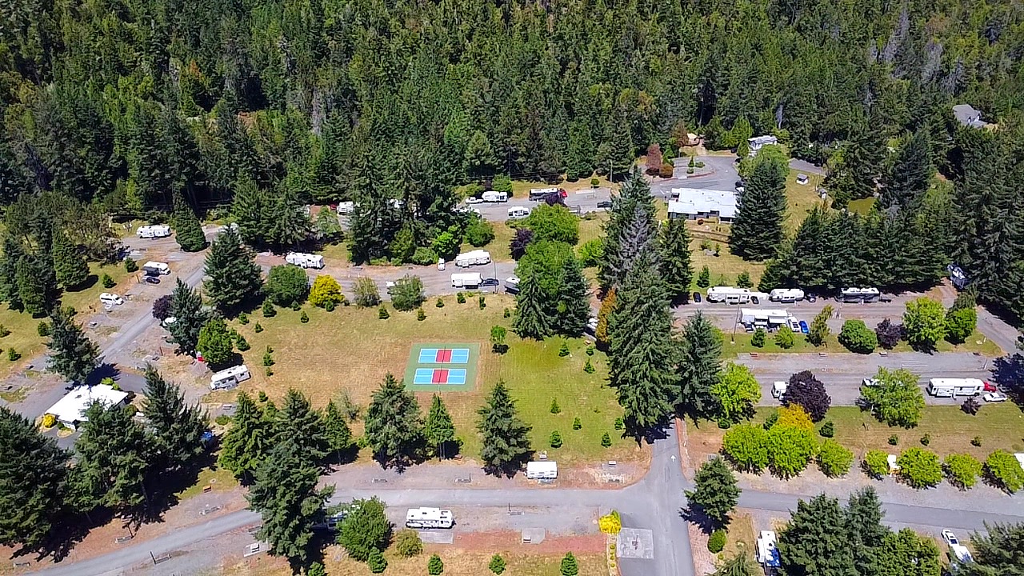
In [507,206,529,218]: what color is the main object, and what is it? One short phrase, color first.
white vehicle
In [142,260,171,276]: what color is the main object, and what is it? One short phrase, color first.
white camper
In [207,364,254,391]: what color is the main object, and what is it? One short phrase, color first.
white trailer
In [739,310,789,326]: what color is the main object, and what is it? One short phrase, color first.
white trailer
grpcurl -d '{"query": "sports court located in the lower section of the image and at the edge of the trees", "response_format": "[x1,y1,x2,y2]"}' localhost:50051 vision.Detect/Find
[404,343,479,391]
